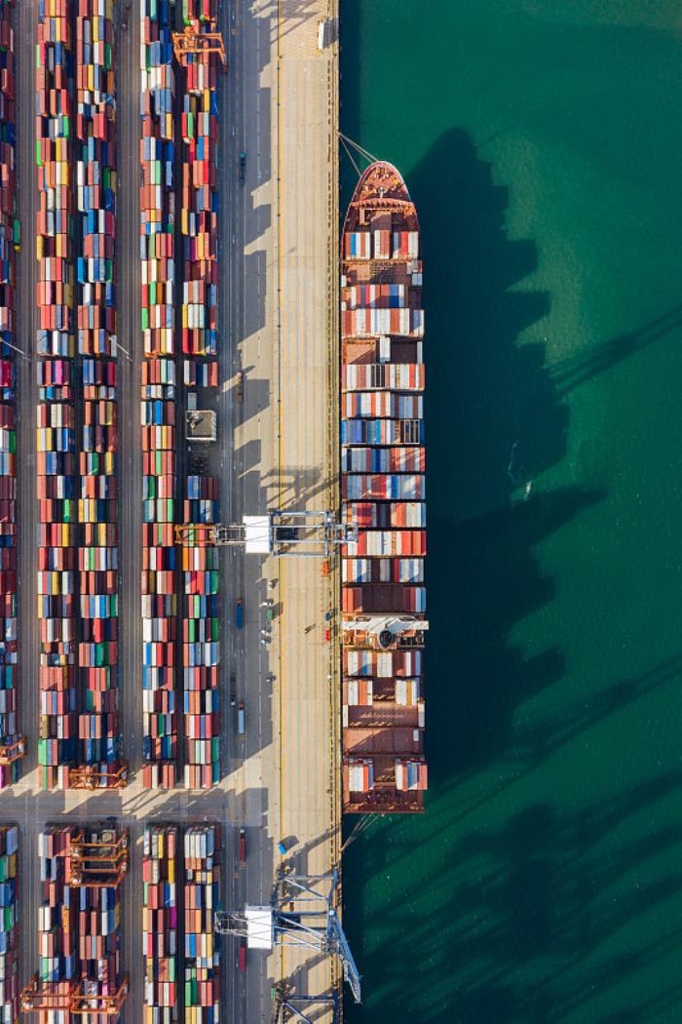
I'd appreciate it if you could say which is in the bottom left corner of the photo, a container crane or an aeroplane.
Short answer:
container crane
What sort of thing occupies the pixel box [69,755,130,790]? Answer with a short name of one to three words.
container crane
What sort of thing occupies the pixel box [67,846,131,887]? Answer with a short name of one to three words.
container crane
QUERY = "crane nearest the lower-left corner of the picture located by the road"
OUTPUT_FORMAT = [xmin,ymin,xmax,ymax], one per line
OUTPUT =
[21,966,84,1012]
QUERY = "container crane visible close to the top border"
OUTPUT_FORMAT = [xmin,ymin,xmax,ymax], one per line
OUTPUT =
[171,32,227,80]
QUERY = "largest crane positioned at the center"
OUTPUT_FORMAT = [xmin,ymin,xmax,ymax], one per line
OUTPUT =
[216,503,359,557]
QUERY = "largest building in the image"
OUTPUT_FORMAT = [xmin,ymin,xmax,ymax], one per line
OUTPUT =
[185,409,216,441]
